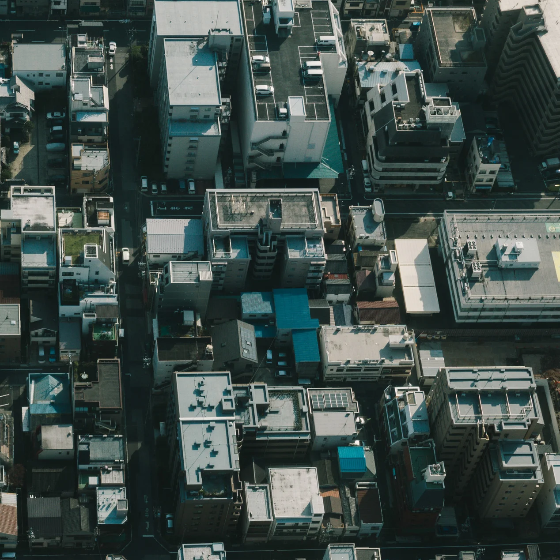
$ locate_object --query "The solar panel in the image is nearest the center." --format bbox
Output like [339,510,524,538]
[236,322,257,363]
